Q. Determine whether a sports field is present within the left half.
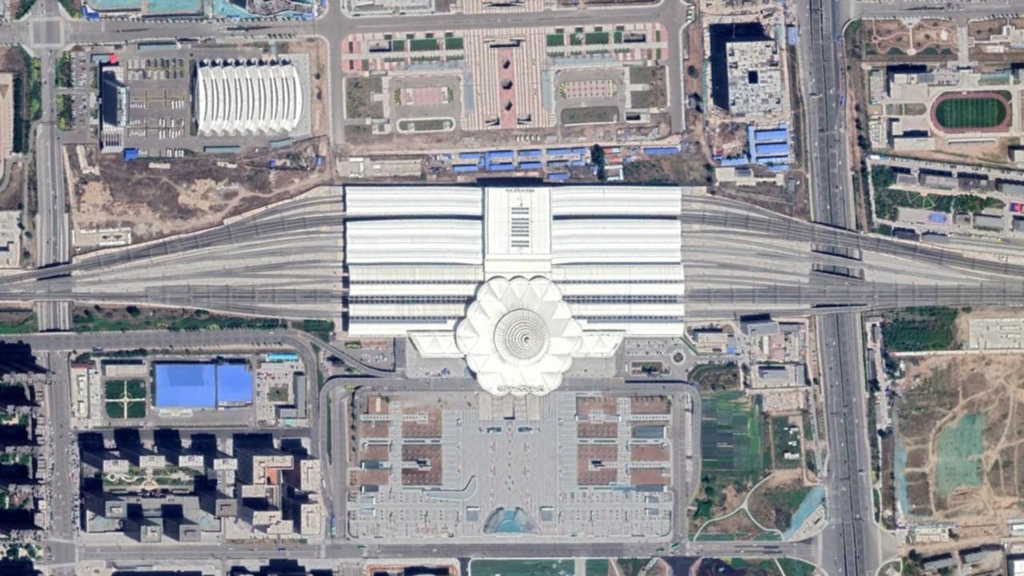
No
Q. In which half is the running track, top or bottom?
top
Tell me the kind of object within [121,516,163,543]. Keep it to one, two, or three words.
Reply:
building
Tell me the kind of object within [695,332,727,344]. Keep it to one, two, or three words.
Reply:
building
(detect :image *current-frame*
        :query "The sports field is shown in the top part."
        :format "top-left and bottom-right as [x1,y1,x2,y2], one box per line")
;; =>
[936,97,1006,128]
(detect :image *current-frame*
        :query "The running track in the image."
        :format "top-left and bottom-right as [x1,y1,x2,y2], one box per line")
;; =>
[930,90,1012,135]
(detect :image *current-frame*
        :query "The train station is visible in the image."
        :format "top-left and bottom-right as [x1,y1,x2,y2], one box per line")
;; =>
[327,183,693,397]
